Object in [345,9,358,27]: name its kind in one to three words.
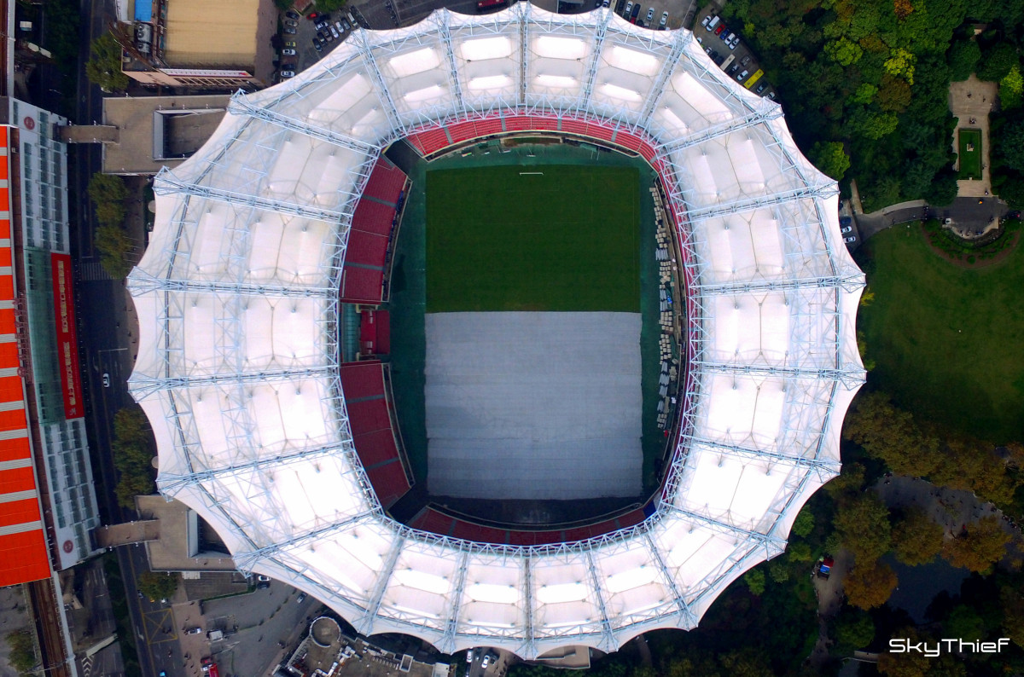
vehicle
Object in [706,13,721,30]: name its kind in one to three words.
car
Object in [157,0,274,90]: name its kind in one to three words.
building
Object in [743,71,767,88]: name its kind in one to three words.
vehicle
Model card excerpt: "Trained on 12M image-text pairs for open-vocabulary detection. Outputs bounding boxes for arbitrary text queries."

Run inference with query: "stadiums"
[127,1,866,657]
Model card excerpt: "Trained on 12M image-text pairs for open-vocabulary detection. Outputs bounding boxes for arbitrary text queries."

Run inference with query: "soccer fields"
[357,142,678,521]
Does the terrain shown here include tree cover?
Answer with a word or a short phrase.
Yes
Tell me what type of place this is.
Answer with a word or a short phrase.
sports ground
